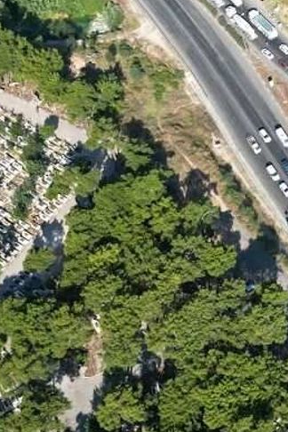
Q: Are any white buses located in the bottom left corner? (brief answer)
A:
No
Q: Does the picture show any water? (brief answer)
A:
No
